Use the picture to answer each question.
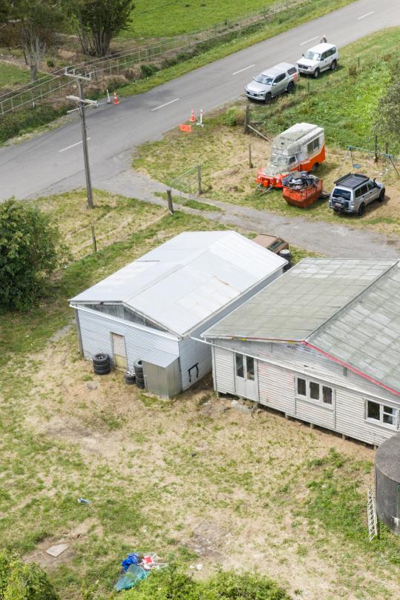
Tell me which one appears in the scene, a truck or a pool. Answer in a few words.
truck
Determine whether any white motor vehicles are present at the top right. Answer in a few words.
Yes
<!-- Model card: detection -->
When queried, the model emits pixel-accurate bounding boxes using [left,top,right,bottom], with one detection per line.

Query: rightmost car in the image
[323,169,390,218]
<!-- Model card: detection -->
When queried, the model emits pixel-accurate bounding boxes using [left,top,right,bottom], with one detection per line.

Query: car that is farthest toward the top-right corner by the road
[294,42,340,78]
